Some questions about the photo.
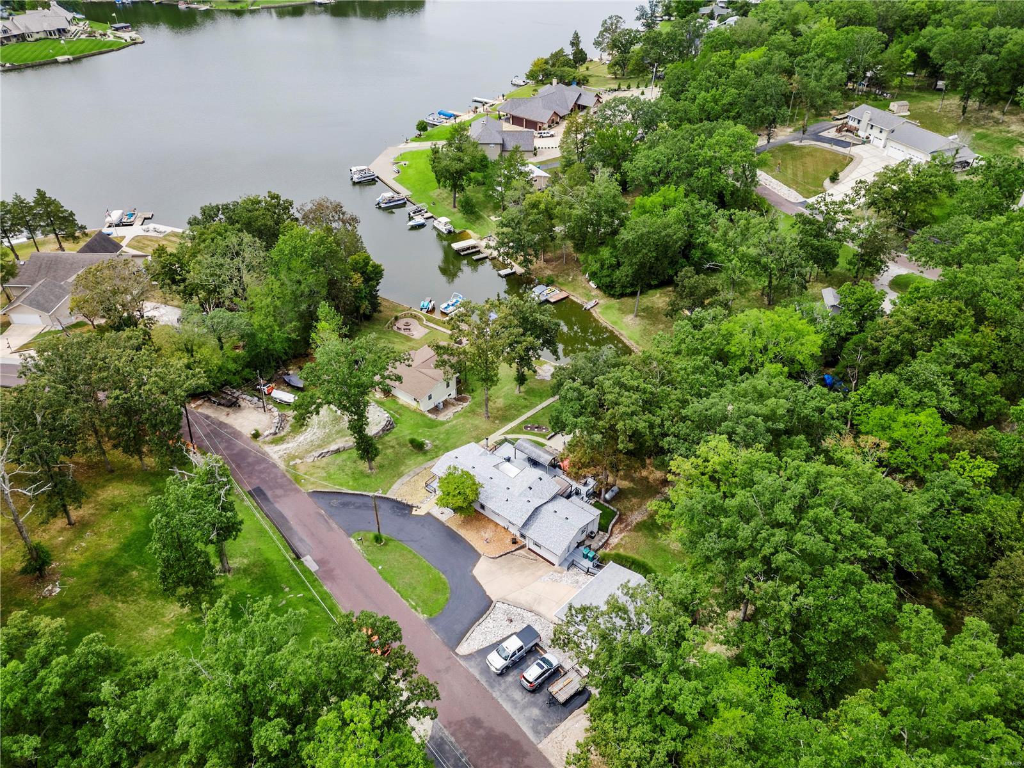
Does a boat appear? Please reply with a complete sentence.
Yes, the image includes a boat.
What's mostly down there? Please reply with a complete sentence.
Most of the picture is covered by trees.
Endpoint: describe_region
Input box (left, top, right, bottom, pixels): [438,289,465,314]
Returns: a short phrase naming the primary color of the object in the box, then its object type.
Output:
white boat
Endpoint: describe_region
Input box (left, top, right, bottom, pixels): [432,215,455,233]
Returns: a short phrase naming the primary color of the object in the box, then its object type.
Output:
white boat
